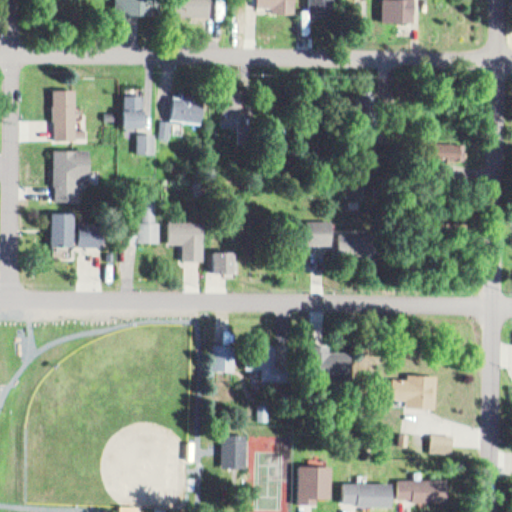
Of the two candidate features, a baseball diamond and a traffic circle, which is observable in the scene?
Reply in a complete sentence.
The image shows a baseball diamond.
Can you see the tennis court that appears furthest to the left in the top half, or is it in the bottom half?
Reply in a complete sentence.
You can find the tennis court that appears furthest to the left in the bottom half.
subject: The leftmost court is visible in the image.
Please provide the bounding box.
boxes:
[248,436,288,512]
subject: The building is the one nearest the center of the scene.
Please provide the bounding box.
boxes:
[212,253,236,276]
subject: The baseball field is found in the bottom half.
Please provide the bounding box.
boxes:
[100,422,187,505]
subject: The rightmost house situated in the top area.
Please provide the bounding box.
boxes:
[437,144,462,162]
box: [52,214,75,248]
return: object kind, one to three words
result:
house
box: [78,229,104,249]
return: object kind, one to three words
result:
building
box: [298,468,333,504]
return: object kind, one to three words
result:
house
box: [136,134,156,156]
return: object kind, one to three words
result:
building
